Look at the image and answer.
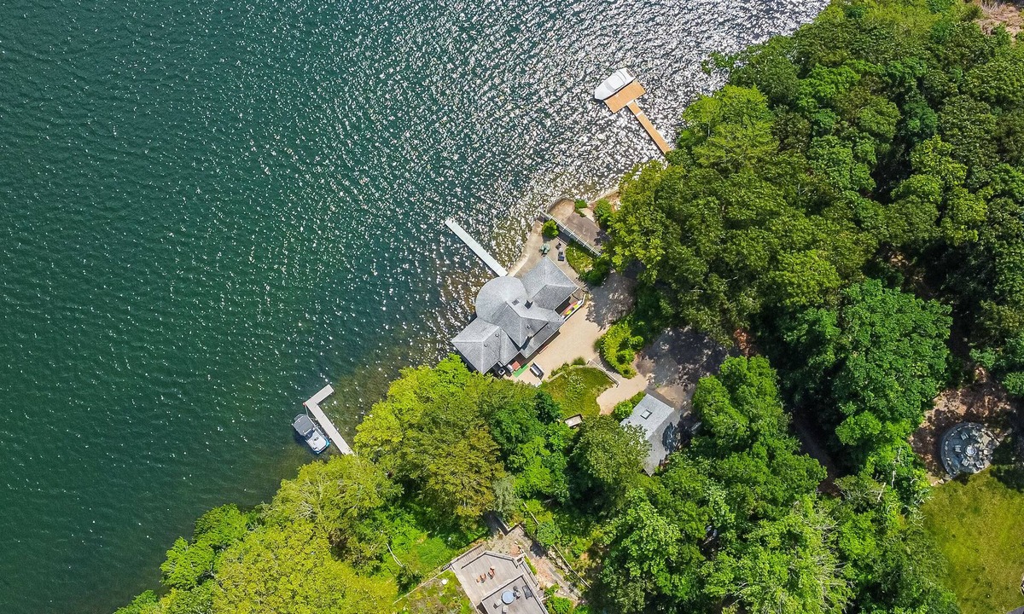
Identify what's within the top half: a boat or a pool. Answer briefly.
boat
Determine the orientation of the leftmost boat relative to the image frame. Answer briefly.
on a diagonal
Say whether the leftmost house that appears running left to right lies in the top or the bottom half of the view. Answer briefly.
bottom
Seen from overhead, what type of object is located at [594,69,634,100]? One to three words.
boat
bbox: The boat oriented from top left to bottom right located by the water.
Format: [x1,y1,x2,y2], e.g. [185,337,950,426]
[290,413,329,453]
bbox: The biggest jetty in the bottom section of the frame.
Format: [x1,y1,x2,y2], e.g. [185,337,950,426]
[305,385,352,457]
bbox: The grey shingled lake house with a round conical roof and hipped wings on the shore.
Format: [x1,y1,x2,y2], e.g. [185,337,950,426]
[450,256,580,375]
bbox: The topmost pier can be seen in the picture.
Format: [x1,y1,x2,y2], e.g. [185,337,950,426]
[604,79,671,159]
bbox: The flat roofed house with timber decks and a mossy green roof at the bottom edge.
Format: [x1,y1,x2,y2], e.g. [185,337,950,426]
[390,544,554,614]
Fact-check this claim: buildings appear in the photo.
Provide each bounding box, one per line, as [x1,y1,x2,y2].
[450,256,580,375]
[621,393,686,477]
[390,544,554,614]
